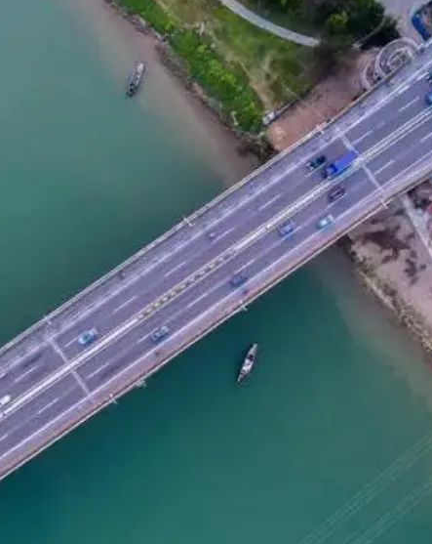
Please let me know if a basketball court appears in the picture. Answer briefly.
No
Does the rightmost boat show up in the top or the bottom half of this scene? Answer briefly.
bottom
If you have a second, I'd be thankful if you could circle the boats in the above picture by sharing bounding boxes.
[236,341,258,384]
[129,61,146,98]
